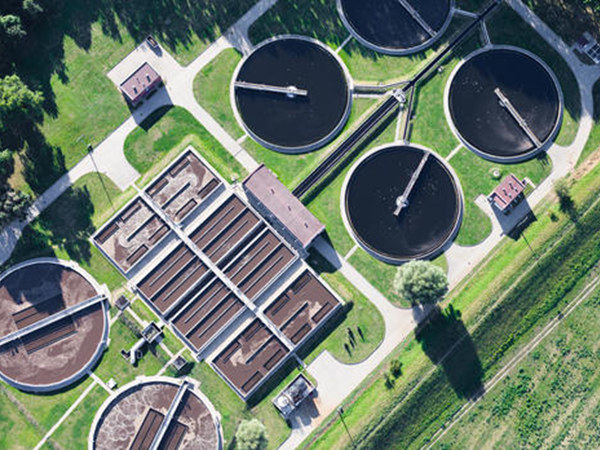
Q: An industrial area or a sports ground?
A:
industrial area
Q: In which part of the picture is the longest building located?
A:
center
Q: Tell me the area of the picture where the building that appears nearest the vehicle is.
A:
top left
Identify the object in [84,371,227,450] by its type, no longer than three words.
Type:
storage tank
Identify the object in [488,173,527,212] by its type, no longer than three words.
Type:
building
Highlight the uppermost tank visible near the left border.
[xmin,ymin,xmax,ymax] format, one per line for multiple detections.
[0,257,120,398]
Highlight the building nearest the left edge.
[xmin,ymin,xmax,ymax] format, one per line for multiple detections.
[118,62,161,103]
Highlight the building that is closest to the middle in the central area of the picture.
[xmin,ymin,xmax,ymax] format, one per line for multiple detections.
[243,163,325,248]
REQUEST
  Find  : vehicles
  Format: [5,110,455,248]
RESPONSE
[145,35,163,54]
